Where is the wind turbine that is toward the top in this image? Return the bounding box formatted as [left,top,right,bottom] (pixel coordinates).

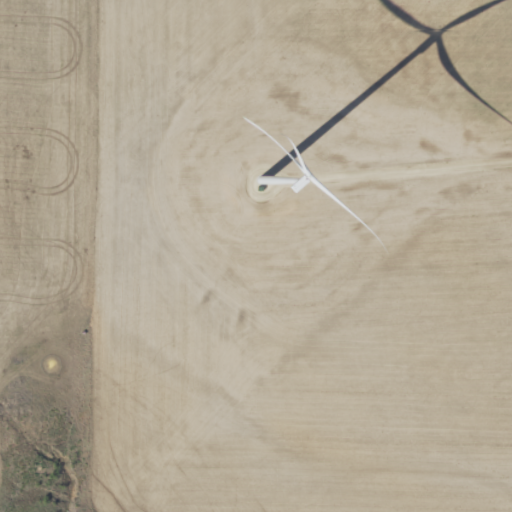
[244,117,389,255]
